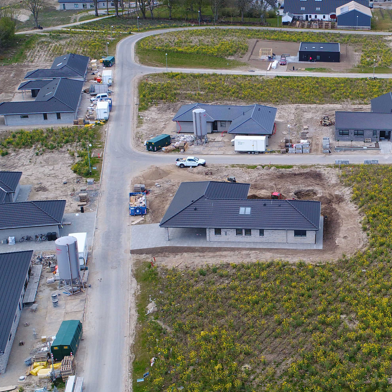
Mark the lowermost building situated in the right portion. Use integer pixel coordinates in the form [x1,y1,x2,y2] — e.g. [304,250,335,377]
[157,180,321,243]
